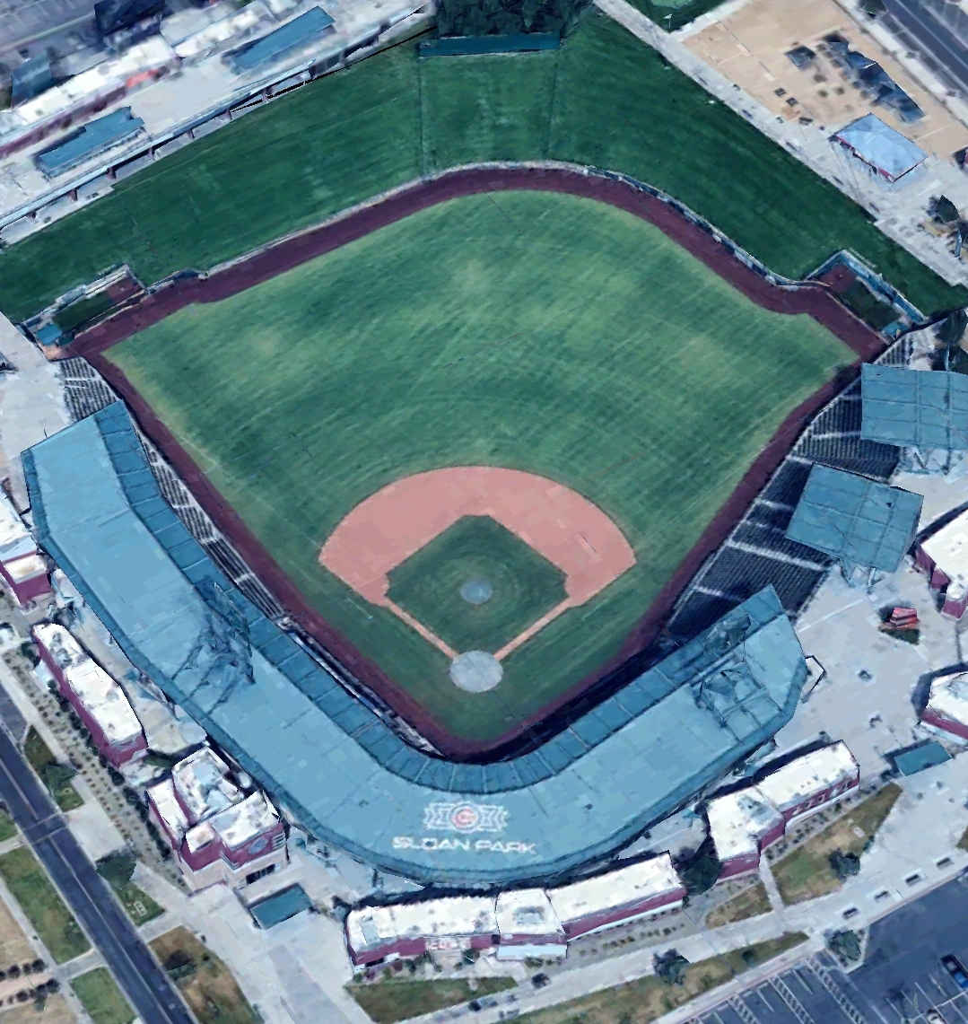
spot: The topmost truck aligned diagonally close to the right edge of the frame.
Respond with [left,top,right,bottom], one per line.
[940,954,968,987]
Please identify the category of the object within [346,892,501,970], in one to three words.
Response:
building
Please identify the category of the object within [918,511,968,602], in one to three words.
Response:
building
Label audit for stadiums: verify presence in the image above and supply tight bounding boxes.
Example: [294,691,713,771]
[21,400,807,899]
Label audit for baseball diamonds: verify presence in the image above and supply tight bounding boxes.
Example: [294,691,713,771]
[26,167,884,759]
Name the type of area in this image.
sports ground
